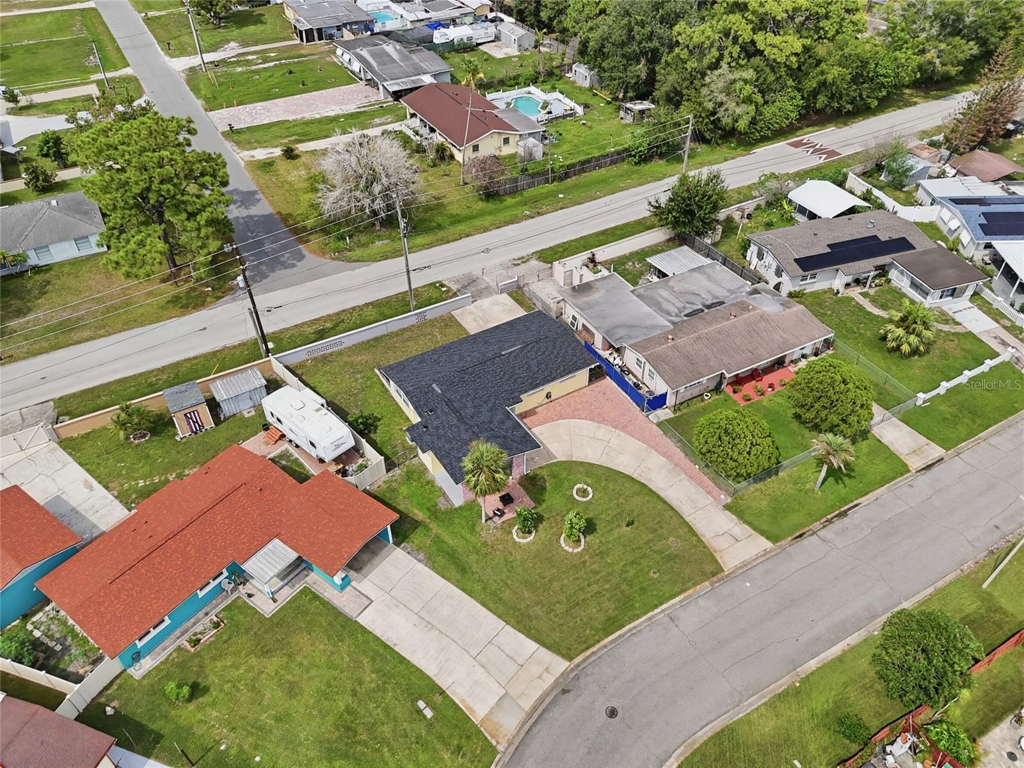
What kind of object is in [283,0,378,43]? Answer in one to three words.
house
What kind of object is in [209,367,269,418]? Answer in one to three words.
shed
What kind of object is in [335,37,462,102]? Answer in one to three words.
house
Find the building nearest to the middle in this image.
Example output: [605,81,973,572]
[379,311,600,502]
